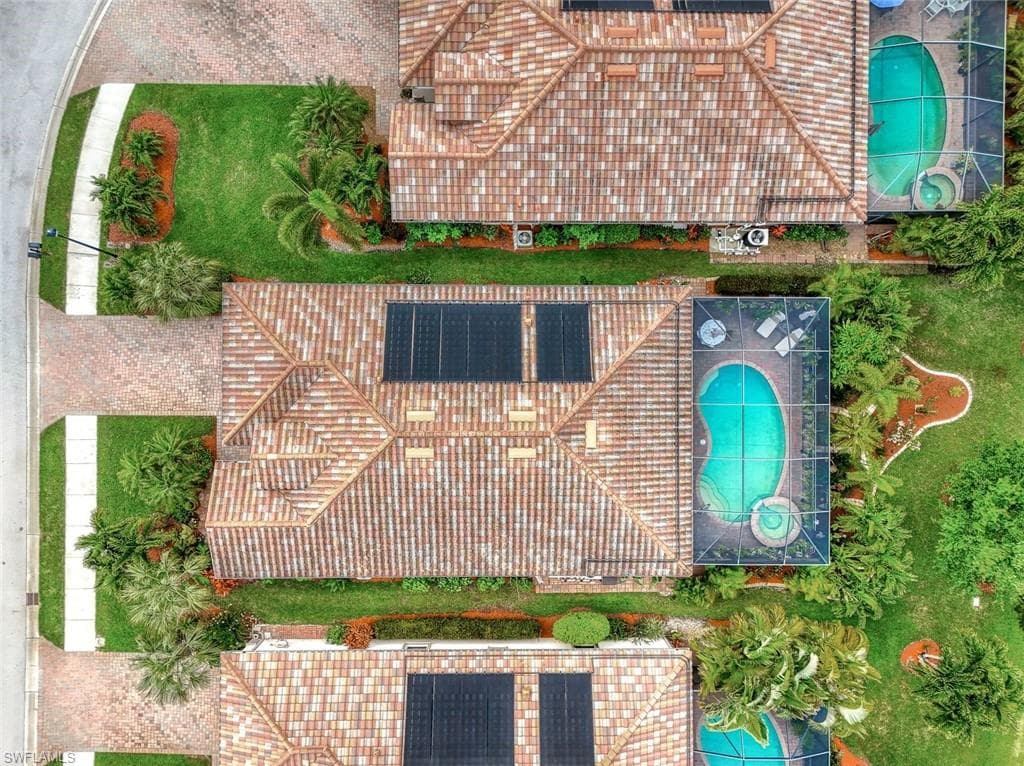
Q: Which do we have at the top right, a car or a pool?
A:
pool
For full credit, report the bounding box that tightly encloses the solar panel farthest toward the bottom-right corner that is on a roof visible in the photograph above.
[534,672,597,766]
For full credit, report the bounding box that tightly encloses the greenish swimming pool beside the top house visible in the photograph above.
[868,31,953,201]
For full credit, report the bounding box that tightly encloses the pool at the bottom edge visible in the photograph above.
[693,707,789,766]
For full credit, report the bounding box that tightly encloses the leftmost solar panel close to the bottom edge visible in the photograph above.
[401,672,516,766]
